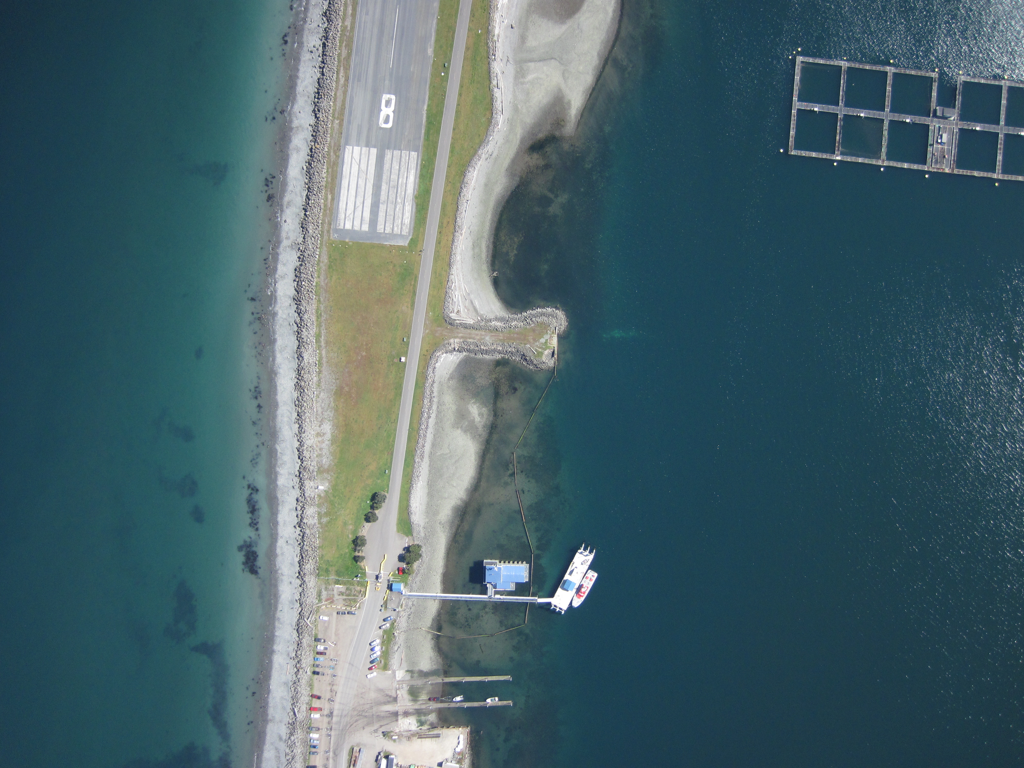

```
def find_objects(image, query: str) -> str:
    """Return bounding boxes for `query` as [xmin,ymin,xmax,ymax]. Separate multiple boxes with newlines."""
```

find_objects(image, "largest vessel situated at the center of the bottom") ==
[552,549,592,610]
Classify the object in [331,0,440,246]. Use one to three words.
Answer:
runway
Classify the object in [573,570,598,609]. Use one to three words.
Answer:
boat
